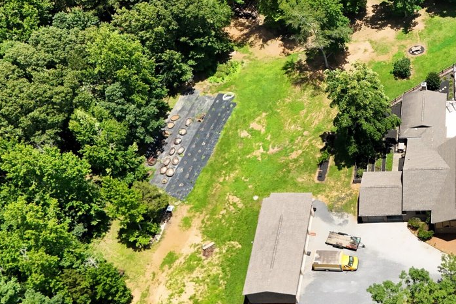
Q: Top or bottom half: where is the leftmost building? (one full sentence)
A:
The bottom half of the photo is where the leftmost building is.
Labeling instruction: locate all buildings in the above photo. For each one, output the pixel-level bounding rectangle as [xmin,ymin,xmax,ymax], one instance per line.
[242,188,314,301]
[398,84,456,233]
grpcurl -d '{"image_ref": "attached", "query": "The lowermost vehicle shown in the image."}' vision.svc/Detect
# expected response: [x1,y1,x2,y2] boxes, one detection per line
[310,250,359,273]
